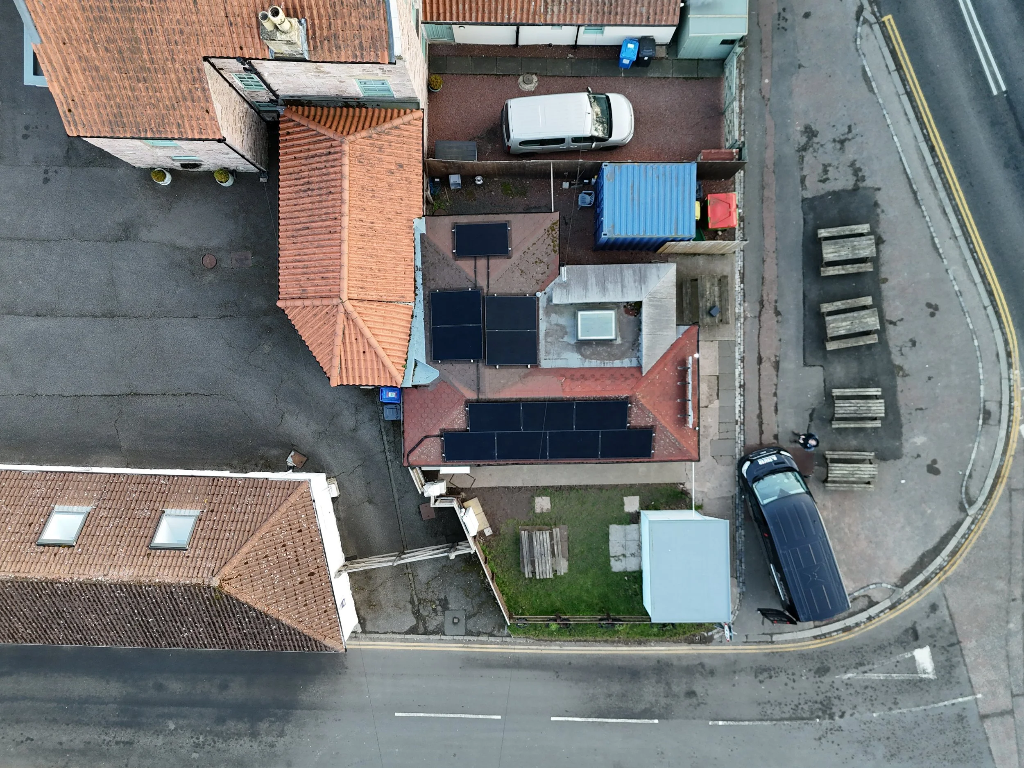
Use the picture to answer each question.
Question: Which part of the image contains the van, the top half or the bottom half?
bottom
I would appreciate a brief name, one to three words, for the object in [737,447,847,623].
van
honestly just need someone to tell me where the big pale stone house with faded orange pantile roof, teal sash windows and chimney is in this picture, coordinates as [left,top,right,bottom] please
[11,0,428,172]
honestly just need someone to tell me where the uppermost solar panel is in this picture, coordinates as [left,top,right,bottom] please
[453,223,511,257]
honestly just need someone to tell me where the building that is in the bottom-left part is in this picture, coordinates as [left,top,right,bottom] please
[0,464,358,656]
